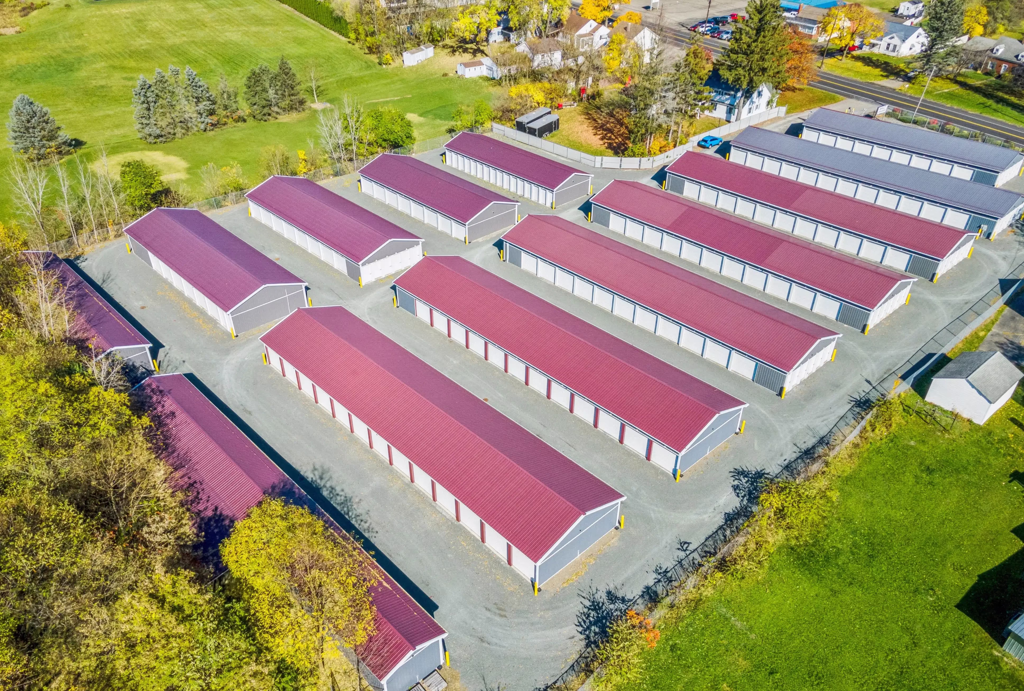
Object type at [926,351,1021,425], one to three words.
building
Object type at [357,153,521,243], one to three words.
building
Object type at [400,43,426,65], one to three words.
shed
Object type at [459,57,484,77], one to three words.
shed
